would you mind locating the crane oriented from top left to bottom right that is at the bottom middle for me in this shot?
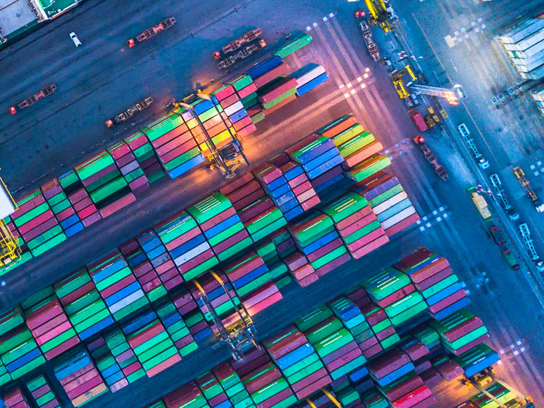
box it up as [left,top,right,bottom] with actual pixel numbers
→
[184,264,265,364]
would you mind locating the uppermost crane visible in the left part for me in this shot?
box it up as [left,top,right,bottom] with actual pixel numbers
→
[168,90,253,179]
